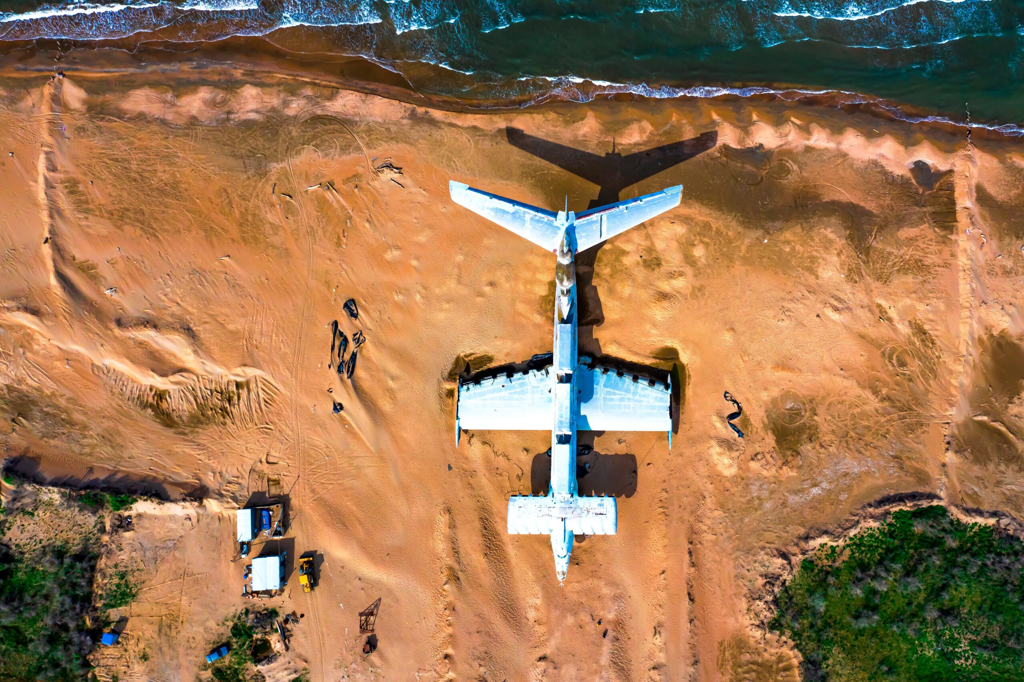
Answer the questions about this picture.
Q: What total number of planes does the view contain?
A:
1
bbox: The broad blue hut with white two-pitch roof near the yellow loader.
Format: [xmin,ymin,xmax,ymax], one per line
[252,553,284,590]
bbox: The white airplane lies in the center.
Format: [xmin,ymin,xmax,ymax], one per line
[454,181,684,592]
